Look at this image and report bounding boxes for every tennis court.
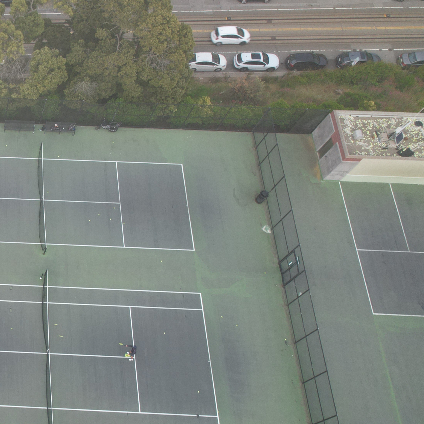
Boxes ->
[0,284,219,424]
[0,157,195,251]
[340,182,424,318]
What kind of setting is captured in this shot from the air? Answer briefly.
sports ground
